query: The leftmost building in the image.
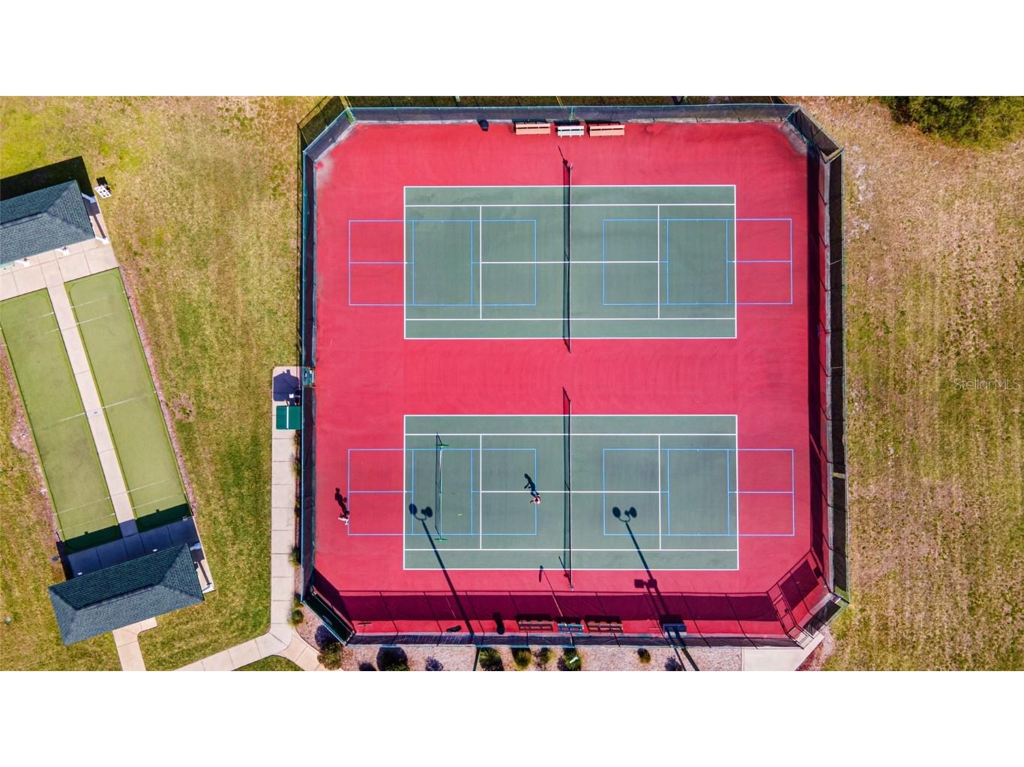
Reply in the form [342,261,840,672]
[0,180,110,267]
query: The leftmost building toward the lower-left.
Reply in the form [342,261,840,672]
[48,542,216,645]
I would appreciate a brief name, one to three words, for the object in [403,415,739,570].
tennis court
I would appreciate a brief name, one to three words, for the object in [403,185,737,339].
tennis court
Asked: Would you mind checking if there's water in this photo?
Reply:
No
